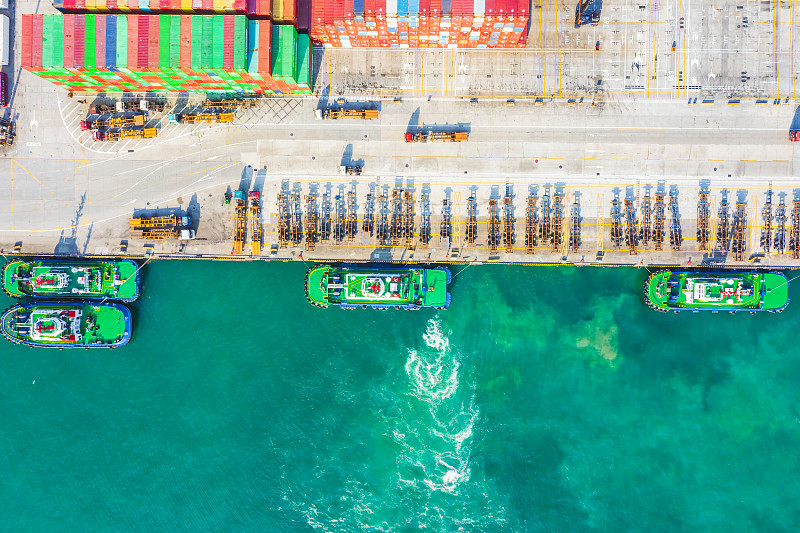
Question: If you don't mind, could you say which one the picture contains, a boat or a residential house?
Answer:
boat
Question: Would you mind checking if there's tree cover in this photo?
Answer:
No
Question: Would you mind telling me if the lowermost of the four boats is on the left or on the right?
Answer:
left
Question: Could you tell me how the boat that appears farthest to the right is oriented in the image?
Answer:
horizontally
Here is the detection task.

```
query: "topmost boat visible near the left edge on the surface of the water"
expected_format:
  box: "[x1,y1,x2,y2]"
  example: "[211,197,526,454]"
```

[2,259,144,302]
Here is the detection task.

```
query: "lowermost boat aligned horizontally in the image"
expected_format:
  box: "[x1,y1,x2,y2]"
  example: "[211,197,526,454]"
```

[0,301,134,350]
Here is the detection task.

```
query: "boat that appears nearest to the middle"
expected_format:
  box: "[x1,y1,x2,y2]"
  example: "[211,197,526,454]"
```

[306,263,452,309]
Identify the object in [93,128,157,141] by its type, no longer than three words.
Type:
vehicle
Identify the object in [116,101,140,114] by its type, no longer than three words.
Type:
vehicle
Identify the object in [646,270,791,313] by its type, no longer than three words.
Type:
boat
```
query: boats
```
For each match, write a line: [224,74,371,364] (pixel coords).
[2,259,144,302]
[646,270,791,313]
[0,301,134,350]
[306,263,452,309]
